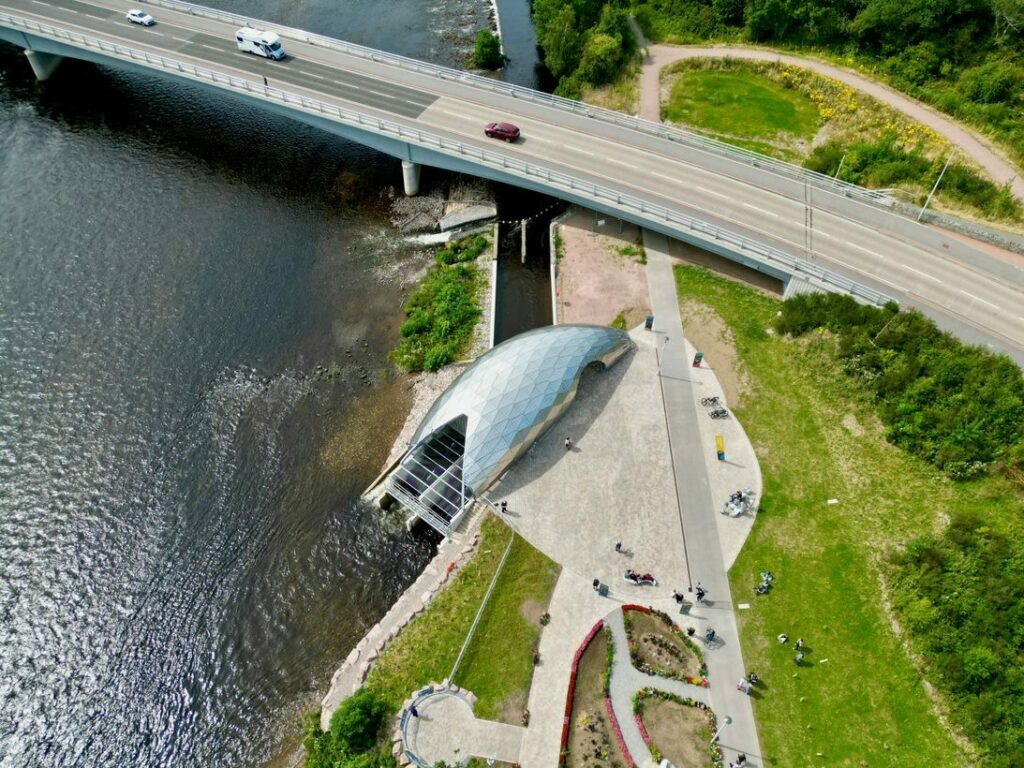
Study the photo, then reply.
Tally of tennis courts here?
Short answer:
0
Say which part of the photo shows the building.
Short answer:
center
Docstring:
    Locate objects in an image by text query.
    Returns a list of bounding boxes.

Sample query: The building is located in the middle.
[381,326,628,551]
